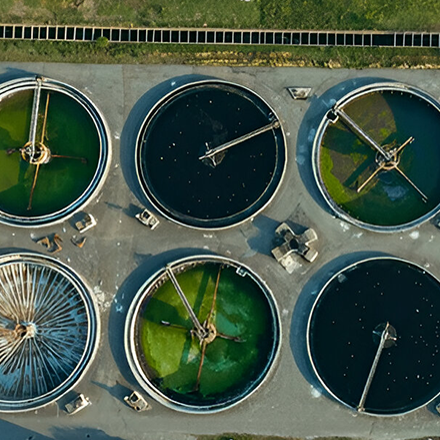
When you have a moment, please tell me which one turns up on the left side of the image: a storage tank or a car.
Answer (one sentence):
What appears on the left side of the image is a storage tank.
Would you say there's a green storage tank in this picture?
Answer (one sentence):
Yes, there is a green storage tank in the image.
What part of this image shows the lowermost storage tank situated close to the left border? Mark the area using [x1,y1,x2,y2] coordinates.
[0,252,102,410]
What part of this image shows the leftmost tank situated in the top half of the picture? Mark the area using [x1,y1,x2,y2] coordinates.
[0,75,112,228]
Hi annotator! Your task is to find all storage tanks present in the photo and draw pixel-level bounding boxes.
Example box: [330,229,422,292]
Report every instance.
[312,82,440,233]
[0,75,112,228]
[0,252,102,410]
[124,254,283,413]
[306,257,440,415]
[135,80,286,230]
